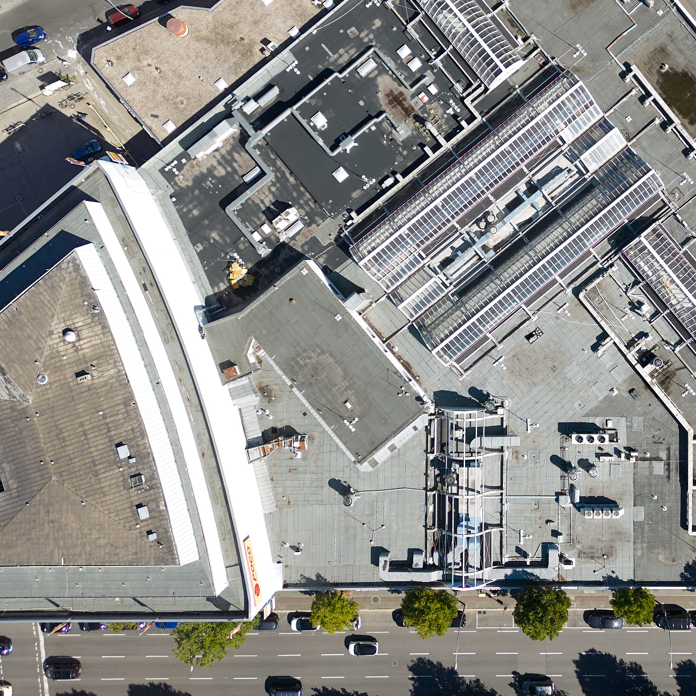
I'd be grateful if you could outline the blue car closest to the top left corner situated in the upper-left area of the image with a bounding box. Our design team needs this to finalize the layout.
[13,25,46,48]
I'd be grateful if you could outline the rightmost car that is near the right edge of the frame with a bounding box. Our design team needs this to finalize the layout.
[656,614,691,631]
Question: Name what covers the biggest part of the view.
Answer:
buildings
